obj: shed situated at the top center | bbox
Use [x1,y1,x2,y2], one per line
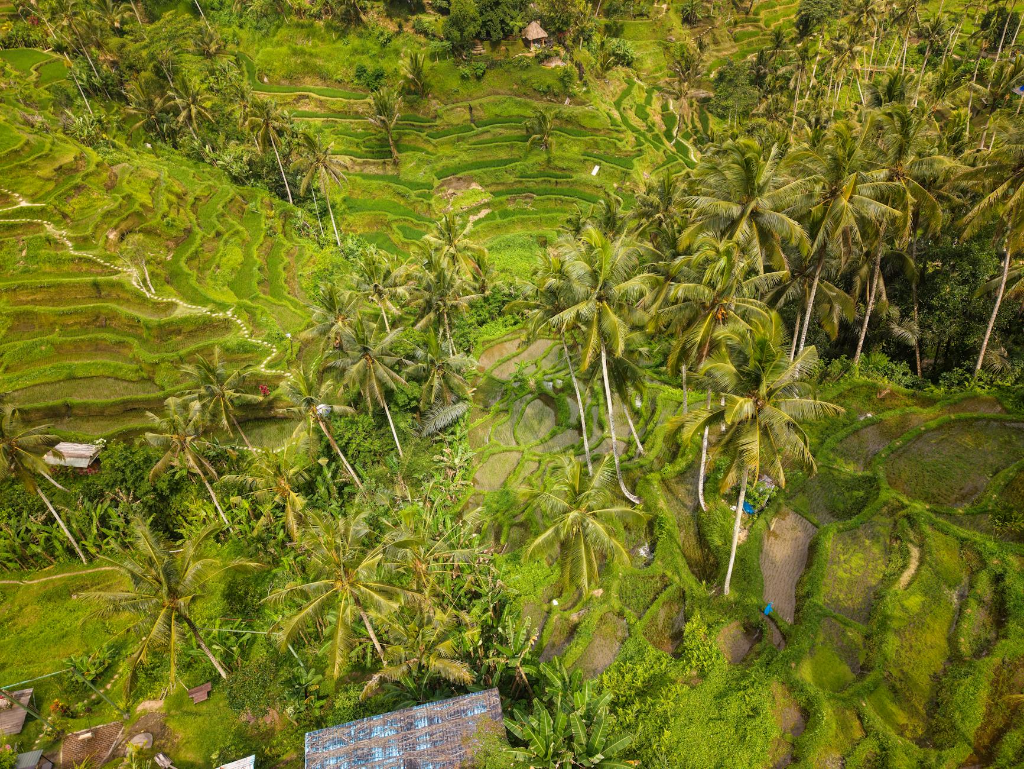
[520,18,551,56]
